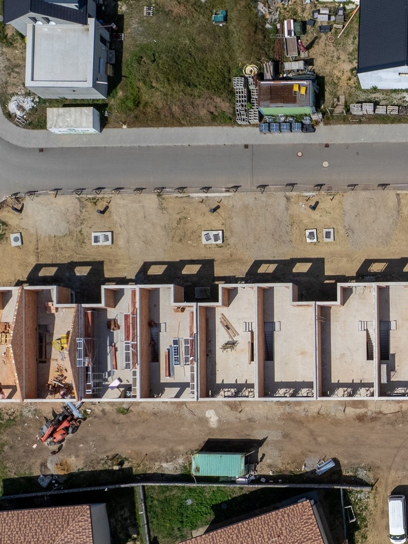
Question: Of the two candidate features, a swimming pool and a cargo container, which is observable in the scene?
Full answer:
It is a cargo container that can be seen here.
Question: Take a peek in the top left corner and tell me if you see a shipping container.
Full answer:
Yes, looking in the top left corner, one can make out a shipping container.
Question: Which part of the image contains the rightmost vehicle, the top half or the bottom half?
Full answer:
It is in the bottom half that the rightmost vehicle appears.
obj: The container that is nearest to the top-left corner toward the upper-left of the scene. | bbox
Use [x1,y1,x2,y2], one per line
[47,107,103,134]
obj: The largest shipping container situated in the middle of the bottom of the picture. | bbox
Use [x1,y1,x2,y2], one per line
[190,447,261,476]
